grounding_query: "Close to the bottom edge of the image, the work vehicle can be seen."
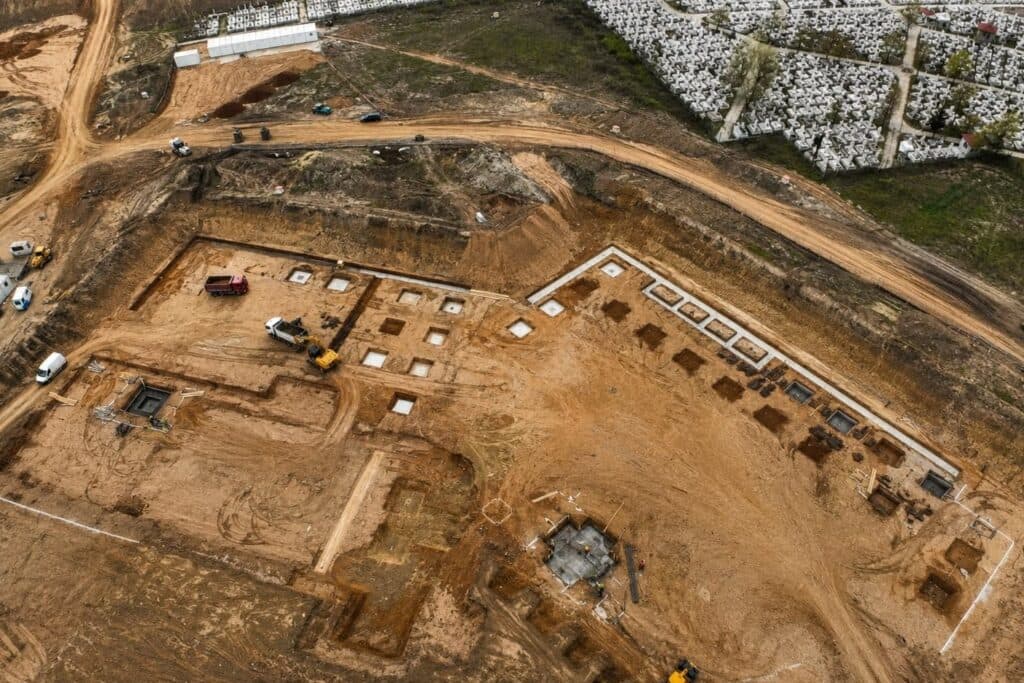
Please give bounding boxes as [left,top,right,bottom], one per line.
[664,658,703,683]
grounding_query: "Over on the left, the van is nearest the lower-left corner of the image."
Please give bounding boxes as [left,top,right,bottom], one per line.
[29,348,68,385]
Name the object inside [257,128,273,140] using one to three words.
vehicle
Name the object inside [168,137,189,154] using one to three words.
vehicle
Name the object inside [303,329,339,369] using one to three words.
work vehicle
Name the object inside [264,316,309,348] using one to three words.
truck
